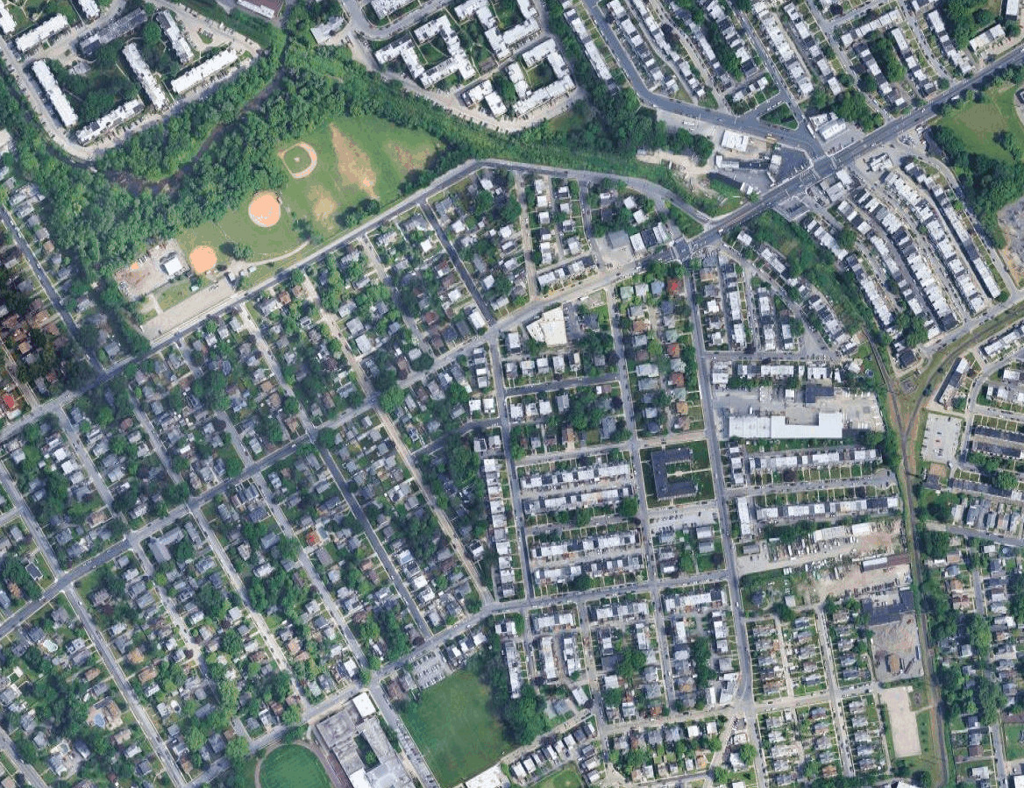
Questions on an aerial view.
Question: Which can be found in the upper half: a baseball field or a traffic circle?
baseball field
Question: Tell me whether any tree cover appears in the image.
Yes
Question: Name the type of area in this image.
residential area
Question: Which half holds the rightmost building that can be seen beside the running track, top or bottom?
bottom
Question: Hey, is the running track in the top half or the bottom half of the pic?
bottom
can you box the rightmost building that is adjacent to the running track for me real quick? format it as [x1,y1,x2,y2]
[317,693,414,788]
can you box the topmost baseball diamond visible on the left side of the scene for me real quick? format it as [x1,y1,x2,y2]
[279,142,317,178]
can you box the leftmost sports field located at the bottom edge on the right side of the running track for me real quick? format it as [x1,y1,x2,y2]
[401,670,512,788]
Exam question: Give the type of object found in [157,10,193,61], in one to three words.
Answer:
building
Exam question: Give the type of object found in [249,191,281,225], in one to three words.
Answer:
baseball field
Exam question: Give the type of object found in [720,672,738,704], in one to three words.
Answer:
house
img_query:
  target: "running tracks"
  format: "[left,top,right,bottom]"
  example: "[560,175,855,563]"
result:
[256,742,334,788]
